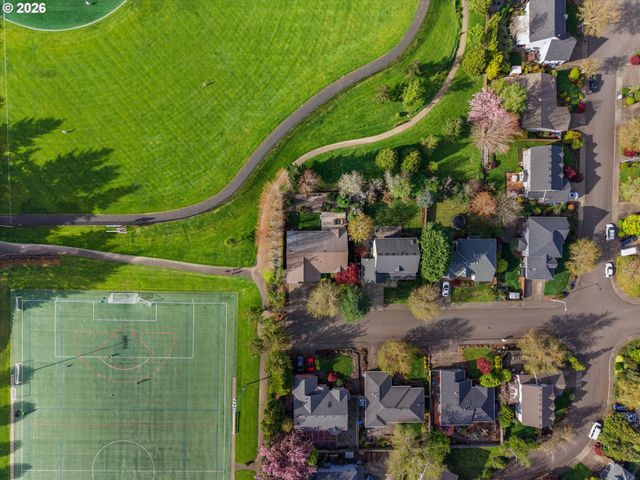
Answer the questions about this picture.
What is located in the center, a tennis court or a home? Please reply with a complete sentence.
The feature located in the center is a home.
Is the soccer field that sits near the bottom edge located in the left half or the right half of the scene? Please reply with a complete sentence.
It is on the left.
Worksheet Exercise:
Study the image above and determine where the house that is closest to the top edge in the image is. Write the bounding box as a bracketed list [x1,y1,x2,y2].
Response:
[521,0,578,66]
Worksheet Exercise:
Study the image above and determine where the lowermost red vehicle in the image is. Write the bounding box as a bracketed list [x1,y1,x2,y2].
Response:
[592,442,604,458]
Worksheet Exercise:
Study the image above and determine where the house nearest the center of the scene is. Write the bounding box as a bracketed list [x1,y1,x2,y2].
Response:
[286,211,349,284]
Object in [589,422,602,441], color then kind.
white vehicle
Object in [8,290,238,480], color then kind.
green soccer field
